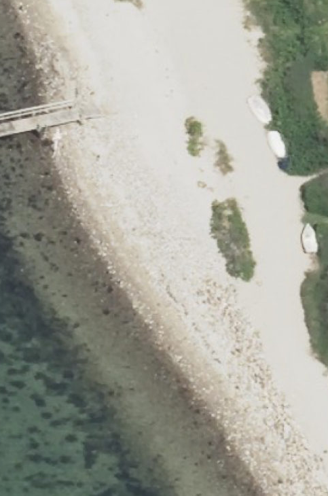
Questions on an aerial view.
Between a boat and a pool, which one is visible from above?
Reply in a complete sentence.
The image shows a boat.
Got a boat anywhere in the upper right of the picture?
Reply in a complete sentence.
Yes, a boat shows up in the upper right of the picture.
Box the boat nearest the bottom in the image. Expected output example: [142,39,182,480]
[301,220,317,254]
